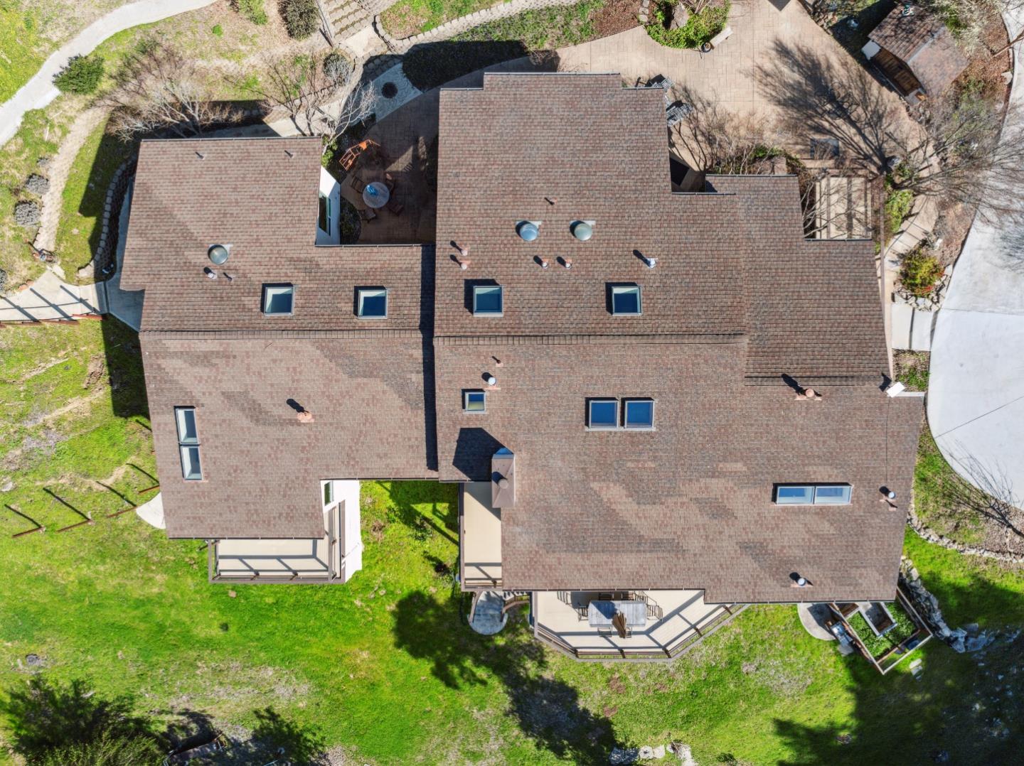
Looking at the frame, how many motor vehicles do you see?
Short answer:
0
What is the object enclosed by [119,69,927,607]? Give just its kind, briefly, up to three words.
house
